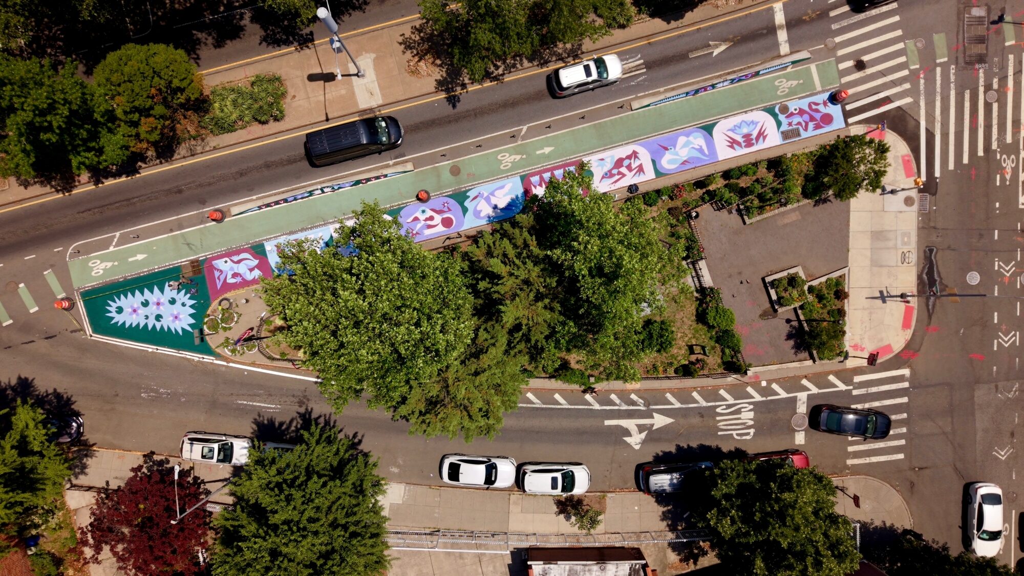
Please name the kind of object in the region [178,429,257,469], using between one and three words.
car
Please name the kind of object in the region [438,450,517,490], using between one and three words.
car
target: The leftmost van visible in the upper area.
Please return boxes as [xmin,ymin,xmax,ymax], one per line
[304,113,407,166]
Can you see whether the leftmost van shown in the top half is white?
No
